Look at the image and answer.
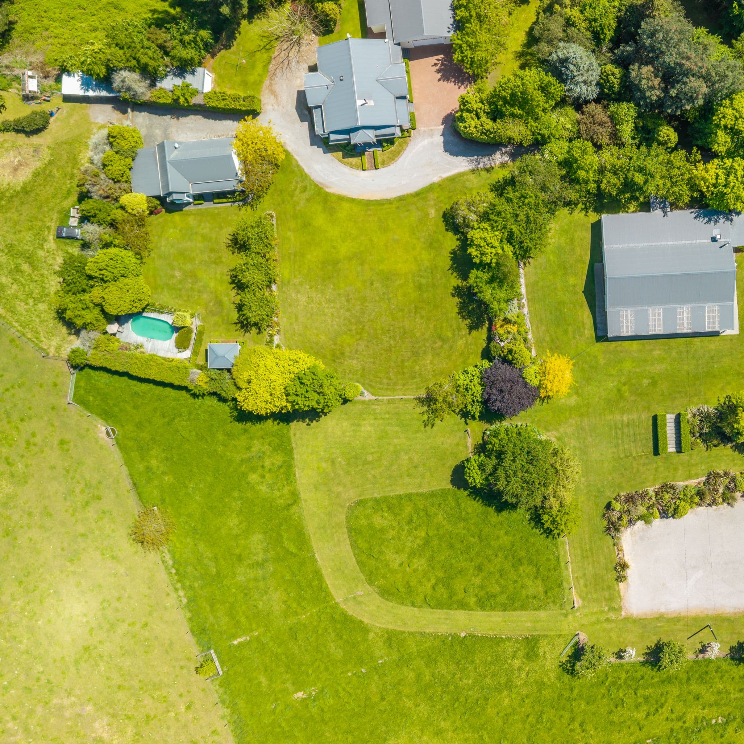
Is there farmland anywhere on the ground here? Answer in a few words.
Yes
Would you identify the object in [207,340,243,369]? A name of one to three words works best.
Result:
gazebo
